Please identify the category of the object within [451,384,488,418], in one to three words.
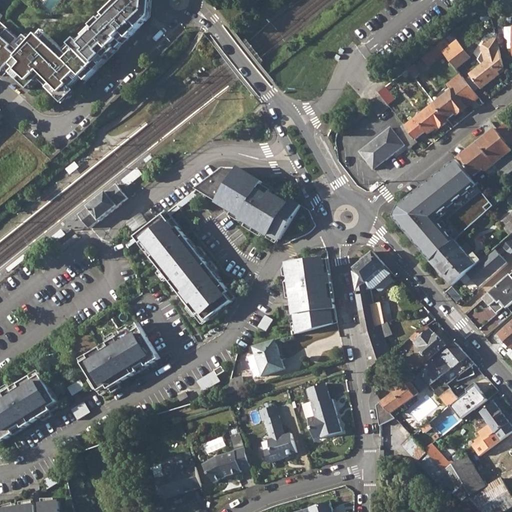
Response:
house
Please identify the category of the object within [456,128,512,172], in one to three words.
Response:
house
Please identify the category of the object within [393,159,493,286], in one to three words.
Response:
building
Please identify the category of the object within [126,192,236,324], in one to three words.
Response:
building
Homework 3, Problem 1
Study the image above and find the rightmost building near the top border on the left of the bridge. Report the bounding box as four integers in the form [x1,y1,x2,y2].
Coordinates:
[76,0,156,80]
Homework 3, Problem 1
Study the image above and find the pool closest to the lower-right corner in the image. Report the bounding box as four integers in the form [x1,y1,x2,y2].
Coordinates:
[433,410,461,436]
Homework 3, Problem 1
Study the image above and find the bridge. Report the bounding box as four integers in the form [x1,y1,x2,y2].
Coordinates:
[180,0,296,120]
